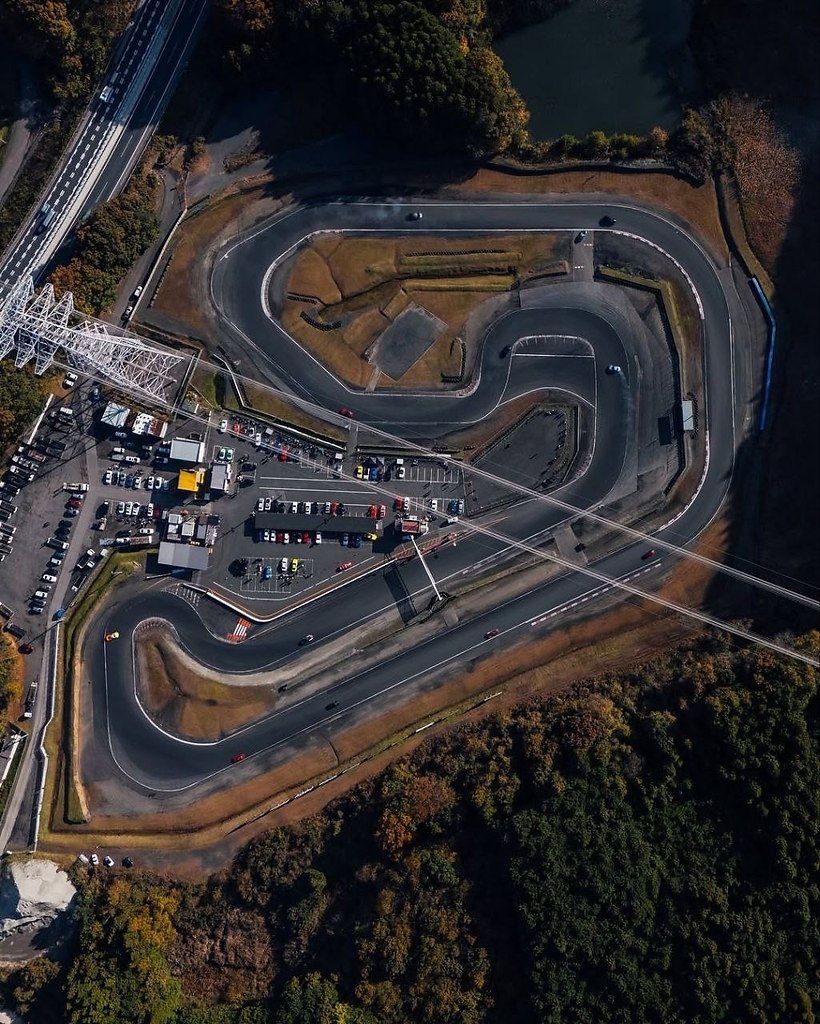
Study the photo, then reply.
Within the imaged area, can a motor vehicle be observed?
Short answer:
Yes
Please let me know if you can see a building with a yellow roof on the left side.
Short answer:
Yes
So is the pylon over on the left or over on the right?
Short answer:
left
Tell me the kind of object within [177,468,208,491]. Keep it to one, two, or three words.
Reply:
building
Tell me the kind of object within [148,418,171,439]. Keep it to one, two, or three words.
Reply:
house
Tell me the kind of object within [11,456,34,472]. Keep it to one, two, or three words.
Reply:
vehicle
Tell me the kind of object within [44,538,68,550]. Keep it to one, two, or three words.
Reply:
vehicle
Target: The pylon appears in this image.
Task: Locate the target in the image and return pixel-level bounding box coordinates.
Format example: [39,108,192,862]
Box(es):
[0,266,187,409]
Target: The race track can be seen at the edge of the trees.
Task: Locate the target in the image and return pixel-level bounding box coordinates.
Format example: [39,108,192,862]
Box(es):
[86,203,735,791]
